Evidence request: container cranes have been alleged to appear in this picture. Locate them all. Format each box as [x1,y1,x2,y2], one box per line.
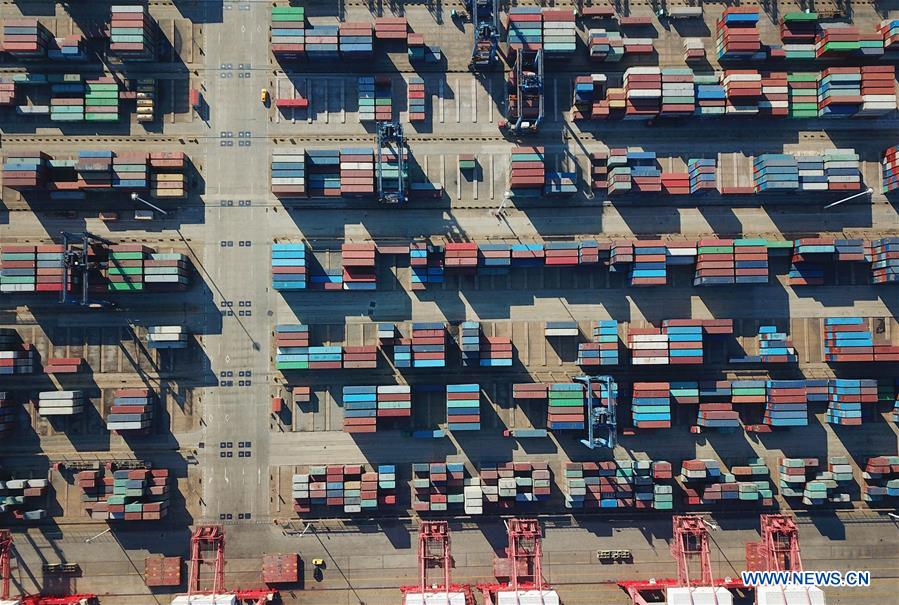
[610,515,730,605]
[569,373,615,445]
[720,514,822,605]
[375,119,410,211]
[464,0,500,68]
[505,47,544,133]
[0,526,103,605]
[170,522,284,605]
[470,517,558,605]
[393,519,474,605]
[59,231,120,308]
